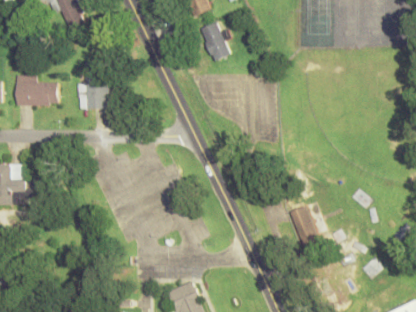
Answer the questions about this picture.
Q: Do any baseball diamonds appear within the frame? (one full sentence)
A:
Yes, I can see a baseball diamond in this picture.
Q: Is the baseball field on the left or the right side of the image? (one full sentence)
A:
It is on the right.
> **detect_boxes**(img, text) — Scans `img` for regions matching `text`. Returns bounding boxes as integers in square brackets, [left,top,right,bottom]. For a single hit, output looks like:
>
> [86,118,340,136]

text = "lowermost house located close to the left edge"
[0,164,28,206]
